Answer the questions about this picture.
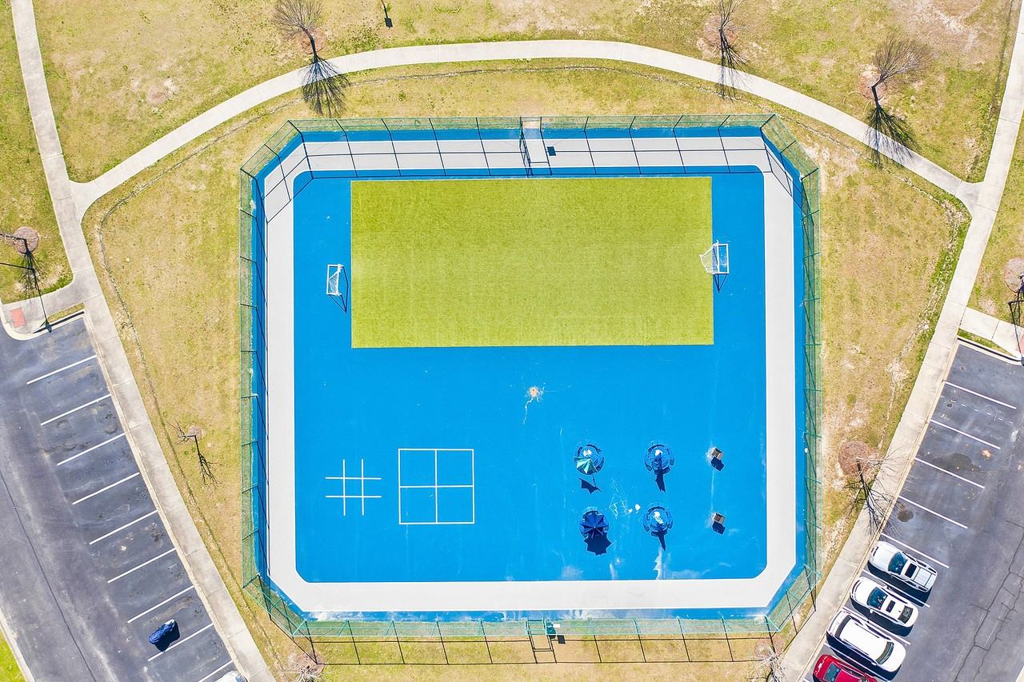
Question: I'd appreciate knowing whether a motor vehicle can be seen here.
Yes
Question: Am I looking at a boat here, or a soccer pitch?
soccer pitch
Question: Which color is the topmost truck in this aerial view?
white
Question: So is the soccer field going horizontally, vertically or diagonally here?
horizontally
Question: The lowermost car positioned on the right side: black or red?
red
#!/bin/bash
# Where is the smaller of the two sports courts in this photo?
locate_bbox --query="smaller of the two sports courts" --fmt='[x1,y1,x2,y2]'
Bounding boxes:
[398,448,475,524]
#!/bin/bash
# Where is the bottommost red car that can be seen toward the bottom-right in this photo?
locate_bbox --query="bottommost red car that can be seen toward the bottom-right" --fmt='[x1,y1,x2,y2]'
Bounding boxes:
[810,654,870,682]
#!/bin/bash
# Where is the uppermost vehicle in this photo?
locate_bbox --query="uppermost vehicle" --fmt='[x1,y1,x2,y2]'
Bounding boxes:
[865,540,938,593]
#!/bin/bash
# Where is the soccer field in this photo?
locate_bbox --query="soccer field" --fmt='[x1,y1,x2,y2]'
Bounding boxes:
[351,176,714,348]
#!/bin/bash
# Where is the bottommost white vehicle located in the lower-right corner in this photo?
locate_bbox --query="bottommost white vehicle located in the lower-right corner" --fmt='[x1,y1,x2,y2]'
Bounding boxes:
[825,608,903,668]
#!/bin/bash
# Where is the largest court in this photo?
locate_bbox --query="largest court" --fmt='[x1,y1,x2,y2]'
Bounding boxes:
[256,128,805,621]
